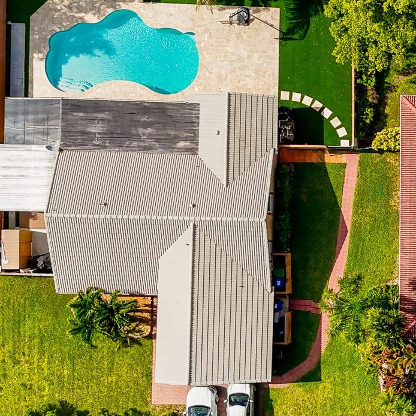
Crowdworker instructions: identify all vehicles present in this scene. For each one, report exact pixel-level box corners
[219,384,254,416]
[181,387,217,416]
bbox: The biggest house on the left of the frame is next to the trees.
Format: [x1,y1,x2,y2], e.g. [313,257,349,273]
[5,91,277,387]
